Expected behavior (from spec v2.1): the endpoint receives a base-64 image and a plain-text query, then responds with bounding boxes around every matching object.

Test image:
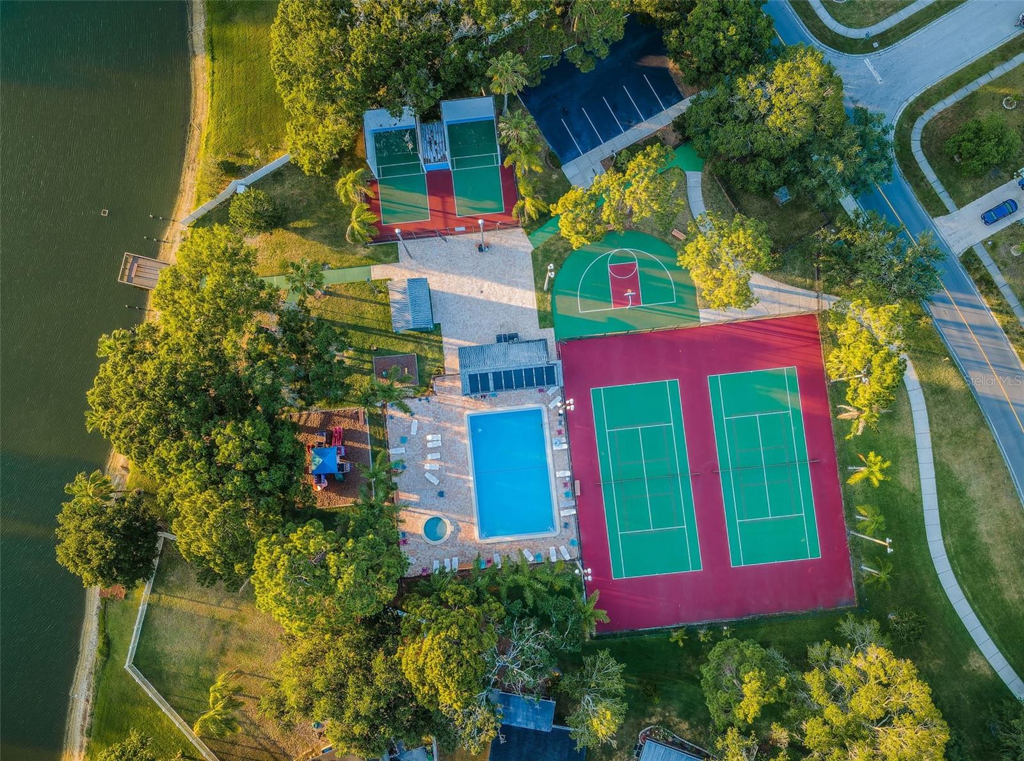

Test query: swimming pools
[421,514,455,545]
[467,405,559,541]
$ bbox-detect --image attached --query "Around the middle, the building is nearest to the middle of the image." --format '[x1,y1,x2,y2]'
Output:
[458,339,564,396]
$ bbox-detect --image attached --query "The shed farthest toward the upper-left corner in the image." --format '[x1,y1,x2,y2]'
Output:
[419,117,451,171]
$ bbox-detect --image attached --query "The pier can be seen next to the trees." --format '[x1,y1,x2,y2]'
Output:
[117,254,171,294]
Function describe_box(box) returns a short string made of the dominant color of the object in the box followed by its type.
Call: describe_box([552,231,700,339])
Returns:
green basketball court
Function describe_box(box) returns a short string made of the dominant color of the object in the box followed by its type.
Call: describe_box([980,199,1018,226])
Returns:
blue car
